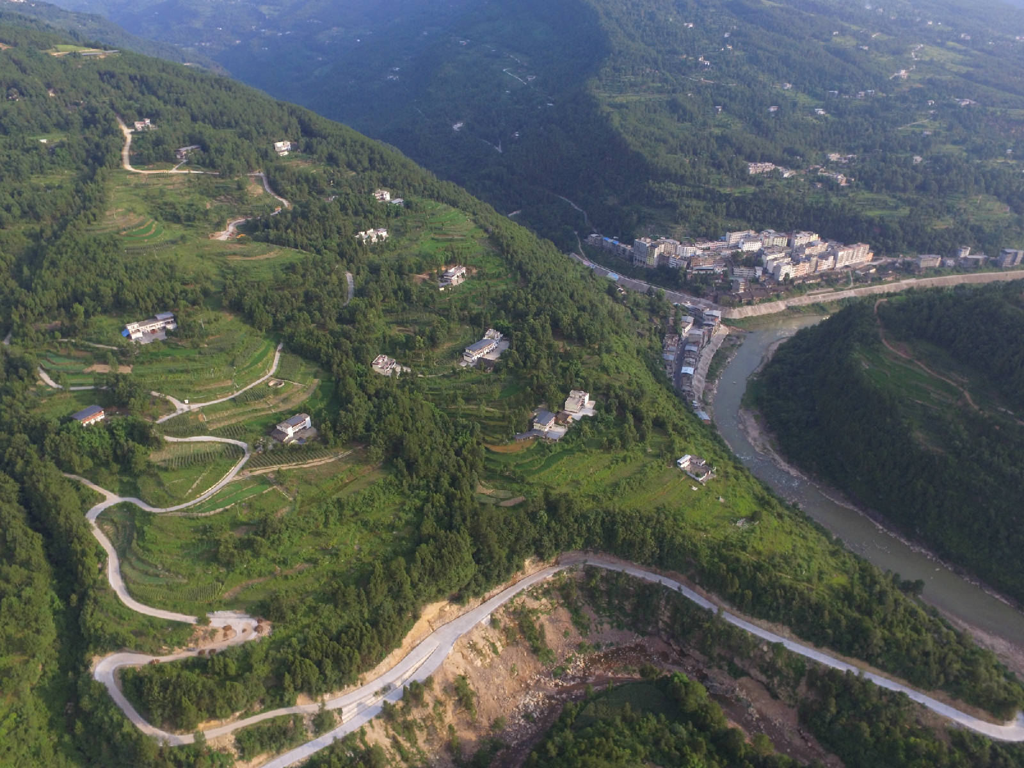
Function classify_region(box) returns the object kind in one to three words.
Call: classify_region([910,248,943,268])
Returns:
building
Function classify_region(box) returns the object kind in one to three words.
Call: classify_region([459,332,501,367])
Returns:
house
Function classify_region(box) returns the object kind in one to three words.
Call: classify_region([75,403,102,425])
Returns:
house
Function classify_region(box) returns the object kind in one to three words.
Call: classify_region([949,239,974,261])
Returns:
building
